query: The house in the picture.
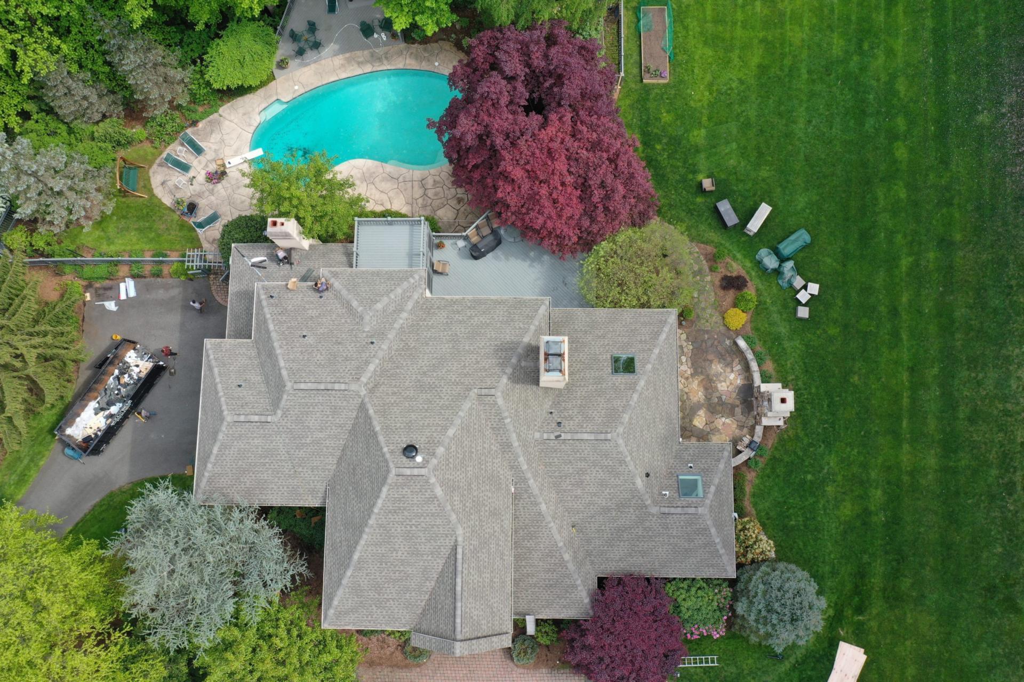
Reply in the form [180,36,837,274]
[191,216,740,657]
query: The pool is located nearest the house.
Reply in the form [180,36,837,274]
[251,70,454,176]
